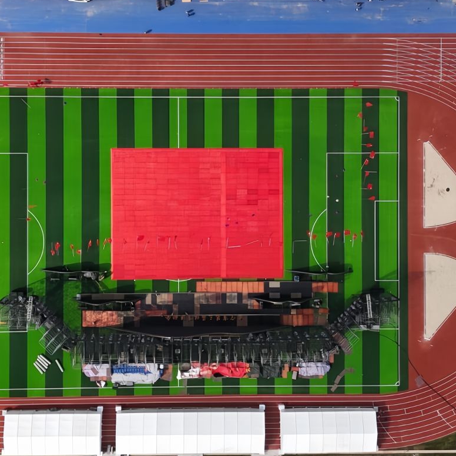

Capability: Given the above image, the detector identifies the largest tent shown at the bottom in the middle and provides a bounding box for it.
[115,406,265,455]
